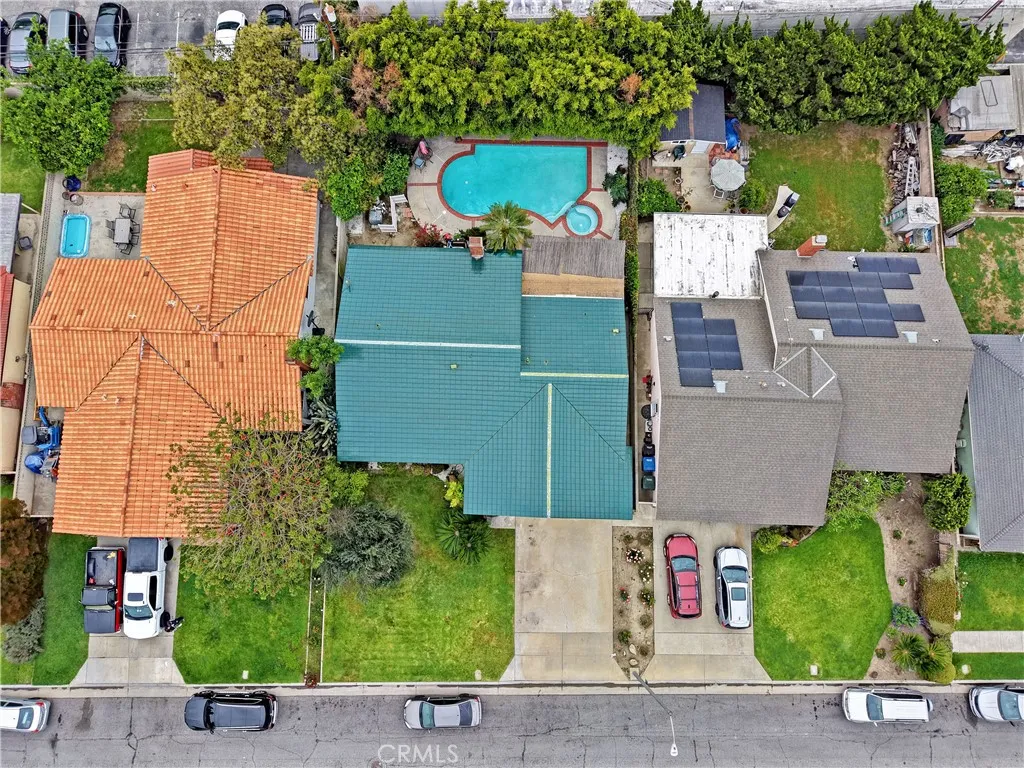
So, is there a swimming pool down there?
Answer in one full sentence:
Yes, the picture does show a swimming pool.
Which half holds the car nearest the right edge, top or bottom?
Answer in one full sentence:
The bottom half of the photo is where the car nearest the right edge is.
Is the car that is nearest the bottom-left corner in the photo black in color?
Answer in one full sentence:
No, the color of the car that is nearest the bottom-left corner is white.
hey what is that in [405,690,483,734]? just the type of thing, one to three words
car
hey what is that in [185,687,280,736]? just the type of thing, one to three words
car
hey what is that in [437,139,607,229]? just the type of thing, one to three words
swimming pool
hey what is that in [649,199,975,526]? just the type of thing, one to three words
house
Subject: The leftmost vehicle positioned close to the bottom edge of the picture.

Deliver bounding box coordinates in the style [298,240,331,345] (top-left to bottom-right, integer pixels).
[0,694,56,733]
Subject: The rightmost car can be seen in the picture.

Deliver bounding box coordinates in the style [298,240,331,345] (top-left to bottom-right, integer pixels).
[963,683,1024,727]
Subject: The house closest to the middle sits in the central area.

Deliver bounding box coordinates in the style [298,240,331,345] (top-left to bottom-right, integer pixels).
[334,236,633,520]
